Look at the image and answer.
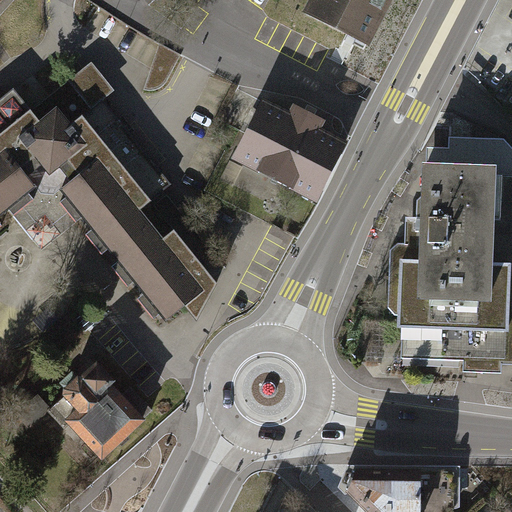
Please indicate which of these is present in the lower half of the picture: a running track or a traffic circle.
traffic circle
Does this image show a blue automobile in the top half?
Yes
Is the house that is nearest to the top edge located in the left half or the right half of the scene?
right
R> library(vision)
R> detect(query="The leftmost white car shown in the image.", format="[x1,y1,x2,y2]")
[99,16,116,38]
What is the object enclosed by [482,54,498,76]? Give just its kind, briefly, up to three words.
car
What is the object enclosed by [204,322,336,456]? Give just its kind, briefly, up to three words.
roundabout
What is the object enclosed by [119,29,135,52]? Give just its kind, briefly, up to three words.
car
